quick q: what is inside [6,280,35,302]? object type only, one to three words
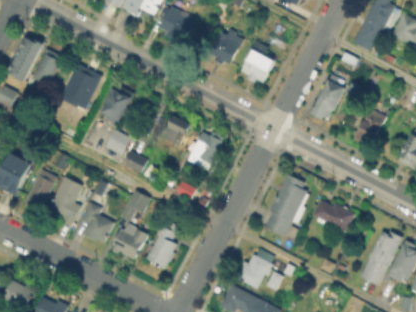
house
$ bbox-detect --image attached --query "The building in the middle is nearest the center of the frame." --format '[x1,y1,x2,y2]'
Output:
[189,133,222,171]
